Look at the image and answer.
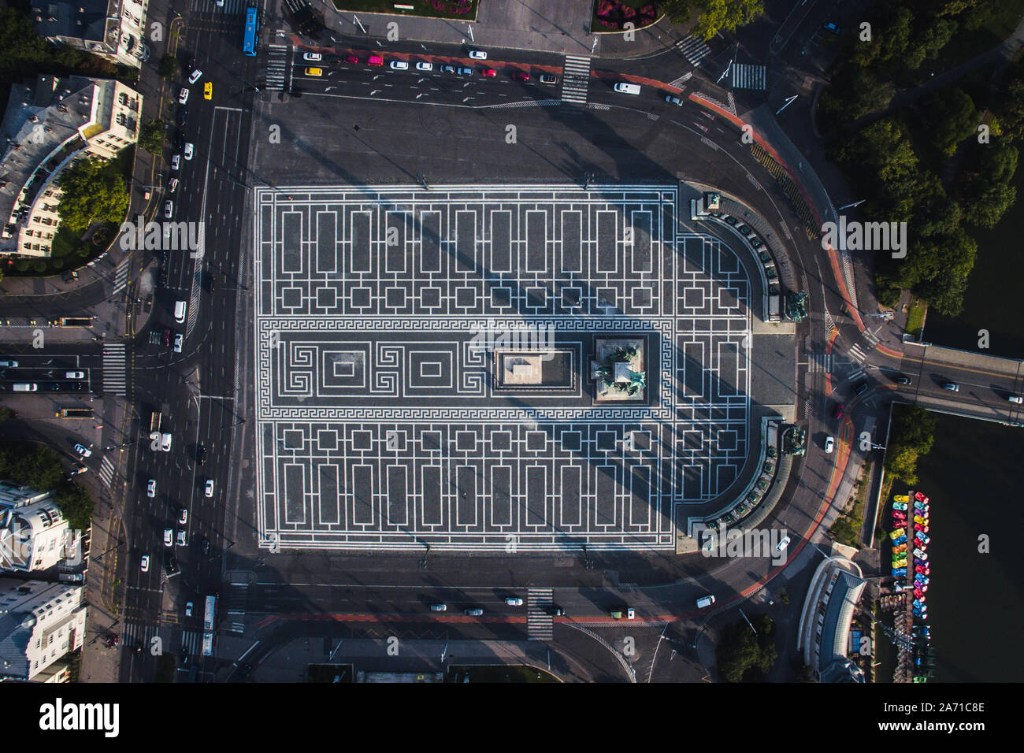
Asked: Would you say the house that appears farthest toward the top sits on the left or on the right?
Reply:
left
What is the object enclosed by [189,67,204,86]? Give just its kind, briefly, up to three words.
car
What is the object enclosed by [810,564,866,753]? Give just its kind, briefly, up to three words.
building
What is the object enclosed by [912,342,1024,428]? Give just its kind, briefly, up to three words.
bridge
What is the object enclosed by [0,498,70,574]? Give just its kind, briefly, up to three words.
house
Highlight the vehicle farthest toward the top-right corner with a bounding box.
[822,22,841,36]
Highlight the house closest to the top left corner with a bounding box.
[31,0,151,67]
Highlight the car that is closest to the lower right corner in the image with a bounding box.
[774,534,791,553]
